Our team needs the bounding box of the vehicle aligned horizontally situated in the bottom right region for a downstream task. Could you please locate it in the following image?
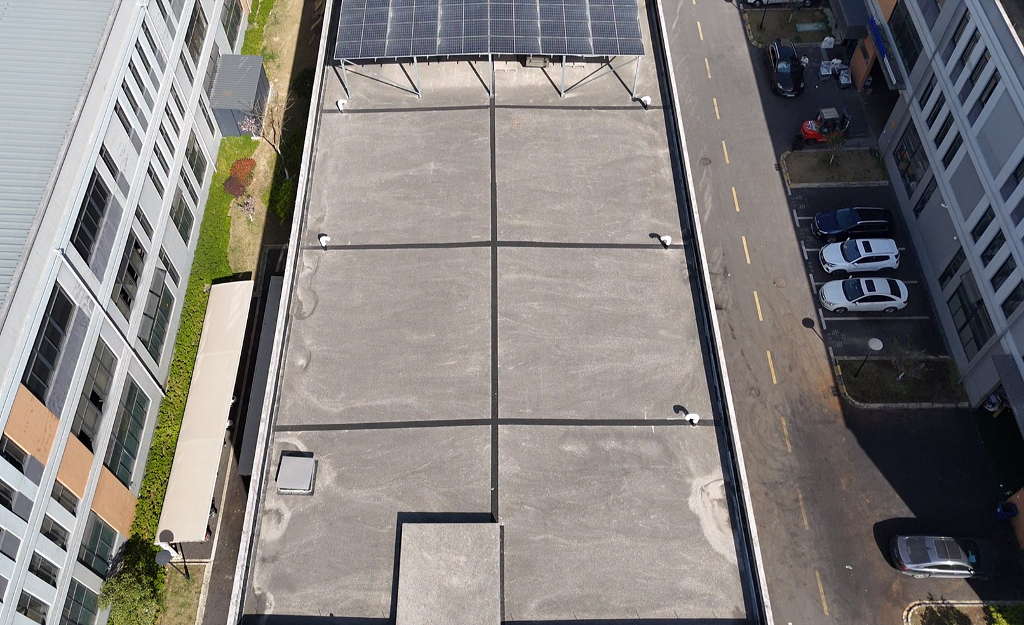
[890,527,1005,578]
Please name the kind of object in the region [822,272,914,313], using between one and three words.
car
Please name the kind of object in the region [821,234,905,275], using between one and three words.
car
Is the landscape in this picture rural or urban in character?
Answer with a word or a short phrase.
urban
